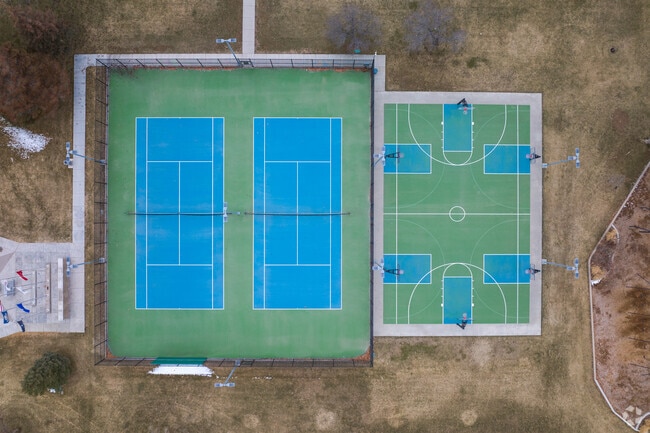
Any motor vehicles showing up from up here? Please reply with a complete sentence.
No, the picture doesn't show any motor vehicle.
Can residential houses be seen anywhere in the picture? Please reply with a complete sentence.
No, no residential house is visible in the view.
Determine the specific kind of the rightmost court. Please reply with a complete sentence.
Looking closely, the rightmost court is a basketball court.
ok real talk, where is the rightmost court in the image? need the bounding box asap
[384,104,531,324]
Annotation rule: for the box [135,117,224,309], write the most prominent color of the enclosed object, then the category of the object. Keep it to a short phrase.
blue tennis court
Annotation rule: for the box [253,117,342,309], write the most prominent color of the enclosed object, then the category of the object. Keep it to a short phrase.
blue tennis court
